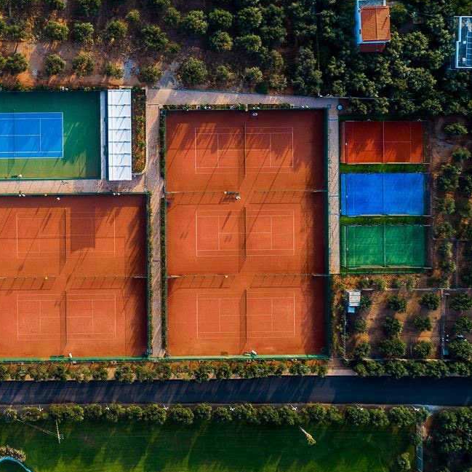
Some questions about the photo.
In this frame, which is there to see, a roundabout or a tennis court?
tennis court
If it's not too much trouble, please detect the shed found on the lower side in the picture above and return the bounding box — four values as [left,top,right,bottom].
[345,290,361,313]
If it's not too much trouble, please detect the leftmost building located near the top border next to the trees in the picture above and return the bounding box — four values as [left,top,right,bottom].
[353,0,391,52]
